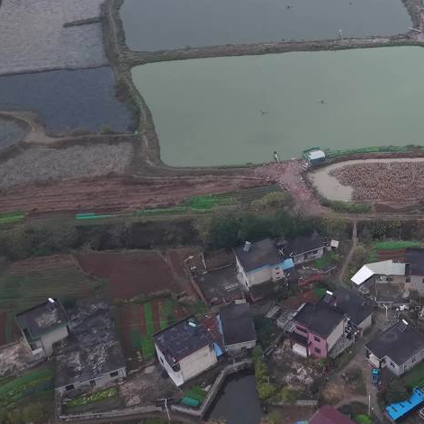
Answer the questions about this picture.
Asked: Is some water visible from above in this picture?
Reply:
Yes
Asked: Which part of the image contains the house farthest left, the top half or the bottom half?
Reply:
bottom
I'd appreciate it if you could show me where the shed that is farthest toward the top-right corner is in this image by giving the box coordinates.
[305,150,326,170]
